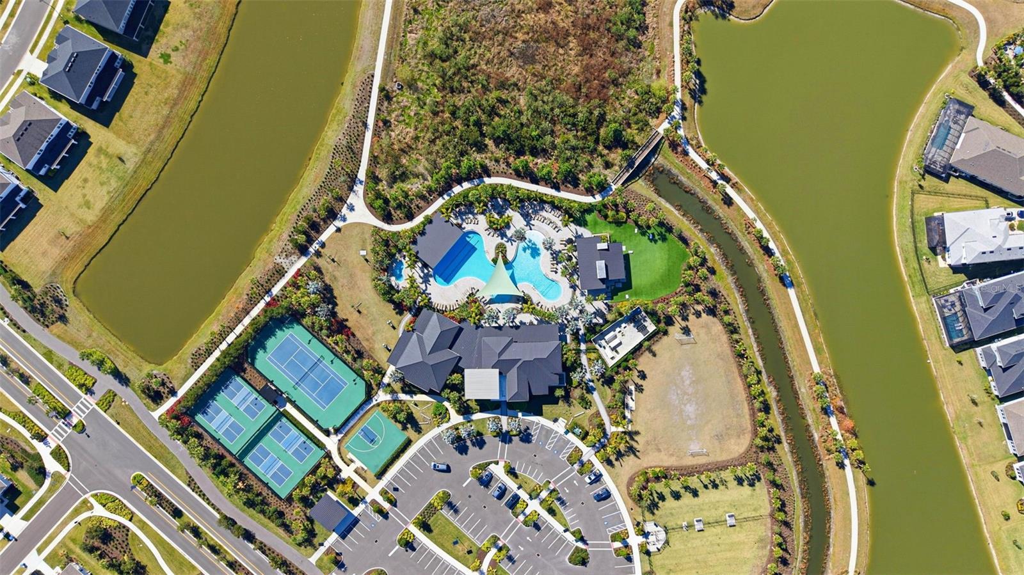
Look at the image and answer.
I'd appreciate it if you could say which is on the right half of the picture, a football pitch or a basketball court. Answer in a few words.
football pitch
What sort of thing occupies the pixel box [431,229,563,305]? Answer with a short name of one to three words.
swimming pool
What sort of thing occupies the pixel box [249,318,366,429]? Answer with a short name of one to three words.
tennis court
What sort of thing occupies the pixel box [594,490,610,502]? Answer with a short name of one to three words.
vehicle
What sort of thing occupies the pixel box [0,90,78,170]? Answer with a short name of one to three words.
house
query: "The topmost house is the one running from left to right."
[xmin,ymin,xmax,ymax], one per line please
[73,0,162,41]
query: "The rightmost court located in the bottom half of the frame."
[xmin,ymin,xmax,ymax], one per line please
[345,410,408,474]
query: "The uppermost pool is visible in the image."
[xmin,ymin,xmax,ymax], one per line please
[932,120,951,151]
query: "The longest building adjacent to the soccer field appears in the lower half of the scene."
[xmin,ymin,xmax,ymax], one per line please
[387,307,566,402]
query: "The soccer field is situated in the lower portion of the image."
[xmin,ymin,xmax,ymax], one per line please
[602,314,751,530]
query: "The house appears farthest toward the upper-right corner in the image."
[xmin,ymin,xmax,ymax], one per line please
[946,116,1024,199]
